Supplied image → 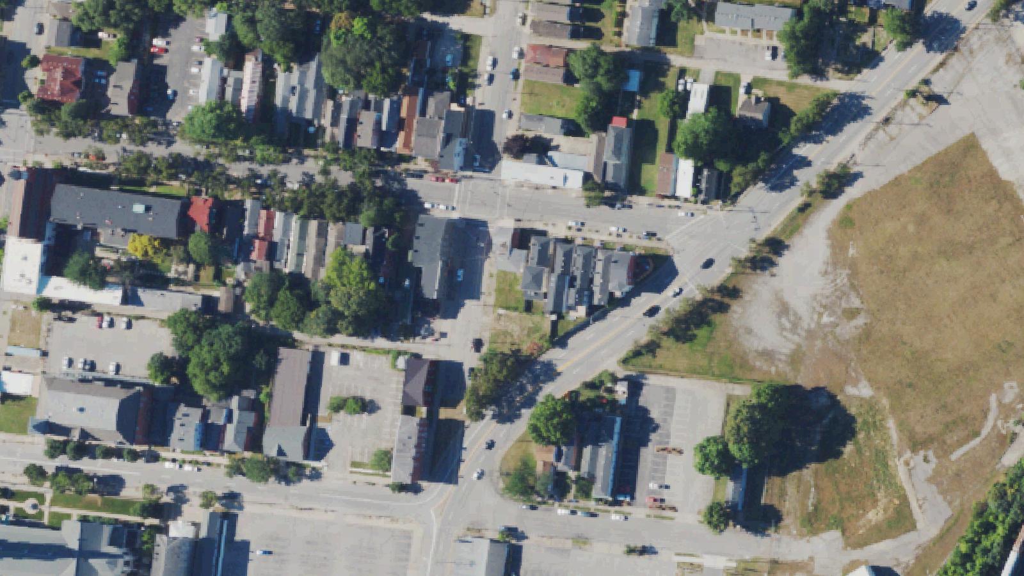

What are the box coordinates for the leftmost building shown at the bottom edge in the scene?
[0,518,134,576]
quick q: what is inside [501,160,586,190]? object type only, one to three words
building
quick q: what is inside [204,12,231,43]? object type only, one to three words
shed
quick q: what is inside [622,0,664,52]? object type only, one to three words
house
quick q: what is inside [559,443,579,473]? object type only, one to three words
house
